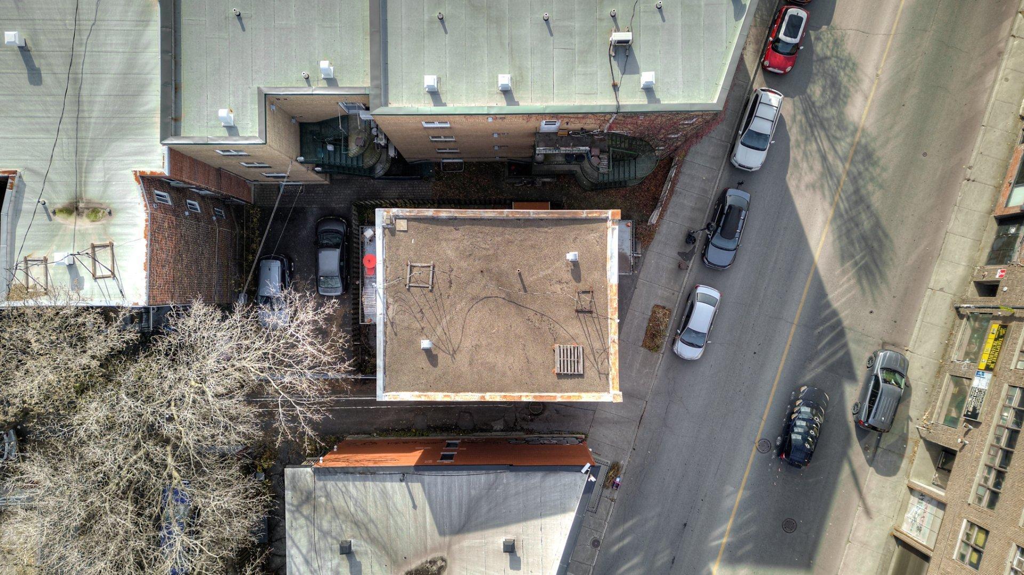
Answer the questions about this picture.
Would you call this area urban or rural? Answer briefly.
urban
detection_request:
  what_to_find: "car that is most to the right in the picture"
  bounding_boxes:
[851,349,909,430]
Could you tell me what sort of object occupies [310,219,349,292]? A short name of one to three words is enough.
car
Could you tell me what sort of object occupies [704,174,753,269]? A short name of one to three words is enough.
car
